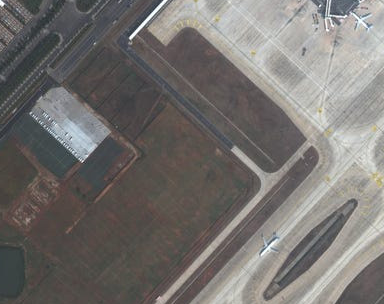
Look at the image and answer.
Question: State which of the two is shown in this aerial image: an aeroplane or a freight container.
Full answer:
The one in the frame is an aeroplane.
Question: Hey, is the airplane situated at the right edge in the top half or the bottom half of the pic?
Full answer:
The top half of the photo is where the airplane situated at the right edge is.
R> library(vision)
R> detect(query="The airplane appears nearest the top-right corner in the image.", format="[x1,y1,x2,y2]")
[350,12,372,32]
